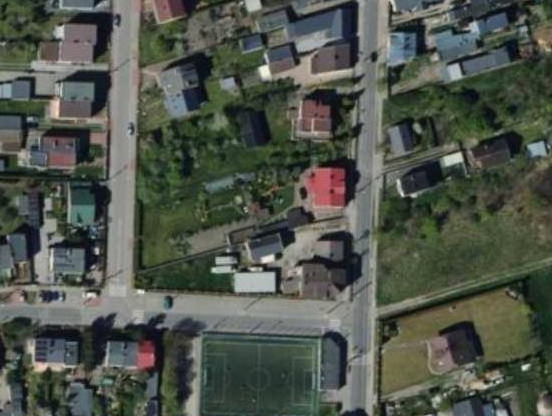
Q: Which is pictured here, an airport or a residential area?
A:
residential area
